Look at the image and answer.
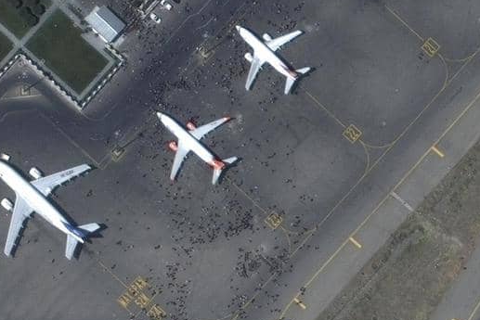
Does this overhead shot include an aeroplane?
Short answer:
Yes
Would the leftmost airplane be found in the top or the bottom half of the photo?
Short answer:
bottom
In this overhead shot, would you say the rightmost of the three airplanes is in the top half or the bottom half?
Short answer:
top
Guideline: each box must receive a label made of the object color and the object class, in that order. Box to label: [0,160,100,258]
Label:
white airplane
